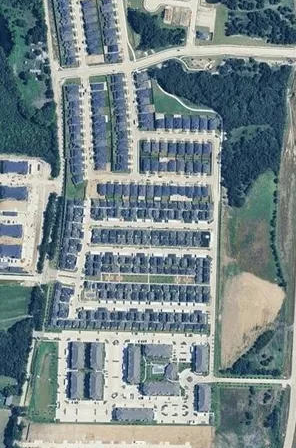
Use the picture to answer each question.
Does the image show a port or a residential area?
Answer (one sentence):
The picture captures a residential area.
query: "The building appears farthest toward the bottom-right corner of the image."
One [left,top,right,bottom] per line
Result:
[195,385,212,412]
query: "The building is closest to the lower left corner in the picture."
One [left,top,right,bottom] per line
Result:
[70,373,84,399]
